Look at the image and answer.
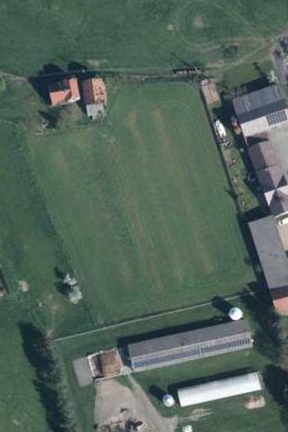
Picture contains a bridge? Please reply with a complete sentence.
No, I find no bridge anywhere in the image.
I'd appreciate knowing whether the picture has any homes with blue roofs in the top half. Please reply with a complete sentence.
No, I see no home with a blue roof in the top half.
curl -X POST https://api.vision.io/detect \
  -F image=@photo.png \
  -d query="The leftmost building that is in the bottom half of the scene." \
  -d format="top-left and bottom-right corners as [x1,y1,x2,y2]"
[88,349,124,380]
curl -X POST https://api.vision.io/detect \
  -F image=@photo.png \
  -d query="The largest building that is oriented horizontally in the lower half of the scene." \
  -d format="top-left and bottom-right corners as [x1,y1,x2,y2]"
[128,322,252,371]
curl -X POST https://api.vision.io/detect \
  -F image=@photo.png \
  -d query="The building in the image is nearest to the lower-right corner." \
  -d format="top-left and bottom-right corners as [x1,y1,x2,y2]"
[178,372,261,406]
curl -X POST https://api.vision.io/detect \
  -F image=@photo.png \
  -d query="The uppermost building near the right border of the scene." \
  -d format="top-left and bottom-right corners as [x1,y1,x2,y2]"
[233,85,288,136]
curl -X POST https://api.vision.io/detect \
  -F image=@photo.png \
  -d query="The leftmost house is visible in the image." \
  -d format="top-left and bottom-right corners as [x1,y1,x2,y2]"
[49,77,80,105]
